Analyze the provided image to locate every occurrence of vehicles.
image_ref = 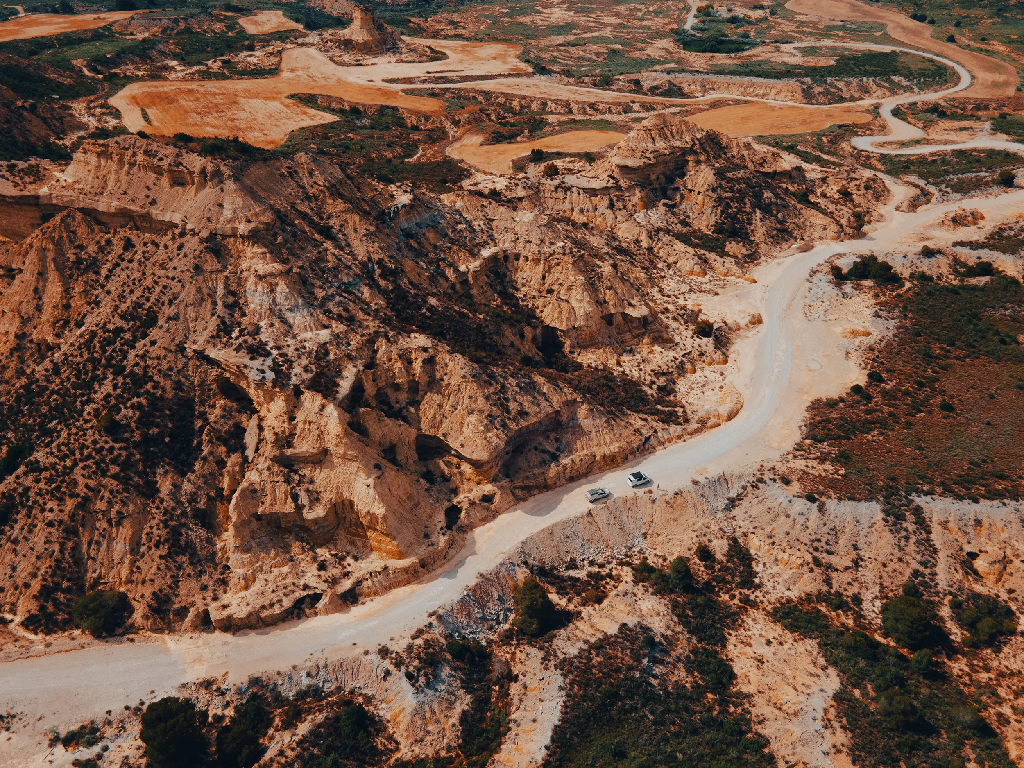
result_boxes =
[627,471,651,487]
[586,487,611,501]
